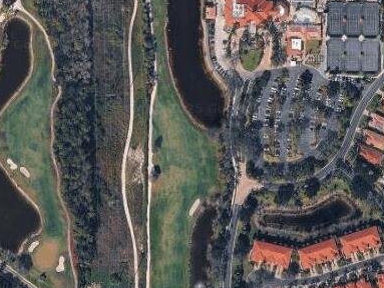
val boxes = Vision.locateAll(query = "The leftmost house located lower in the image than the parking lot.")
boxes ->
[250,241,290,267]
